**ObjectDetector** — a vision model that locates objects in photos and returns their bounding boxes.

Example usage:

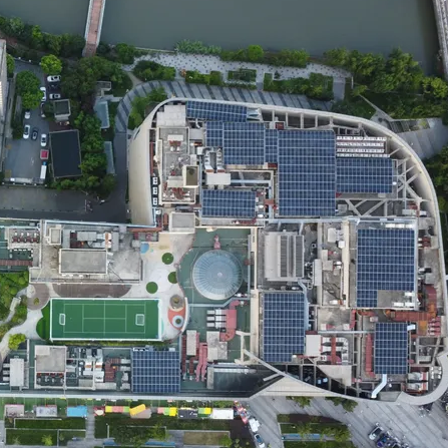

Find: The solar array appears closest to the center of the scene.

[201,190,255,218]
